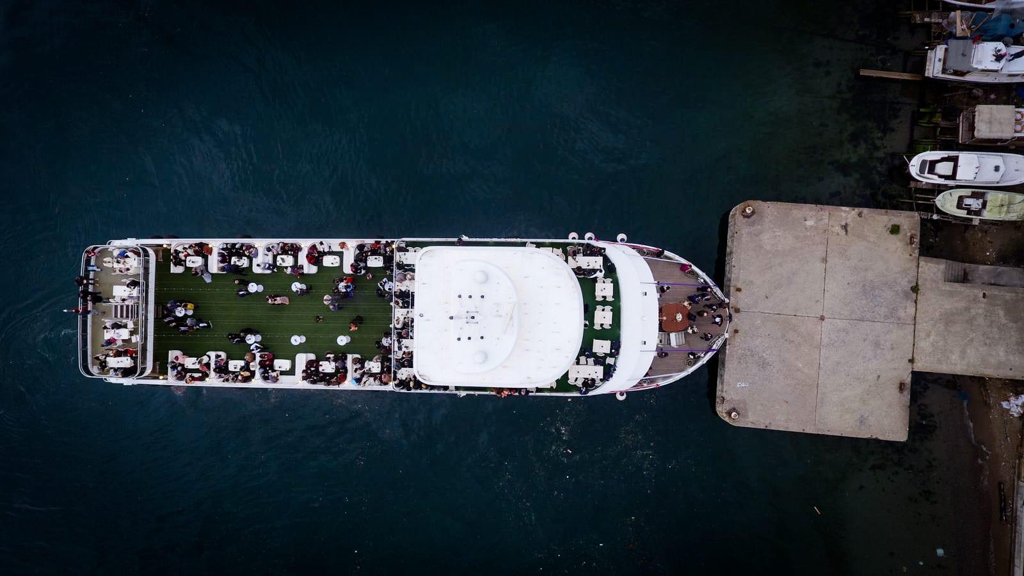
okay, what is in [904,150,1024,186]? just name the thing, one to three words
boat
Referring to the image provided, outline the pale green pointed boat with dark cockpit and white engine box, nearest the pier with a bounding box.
[935,188,1024,221]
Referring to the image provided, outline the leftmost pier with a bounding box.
[706,201,919,440]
